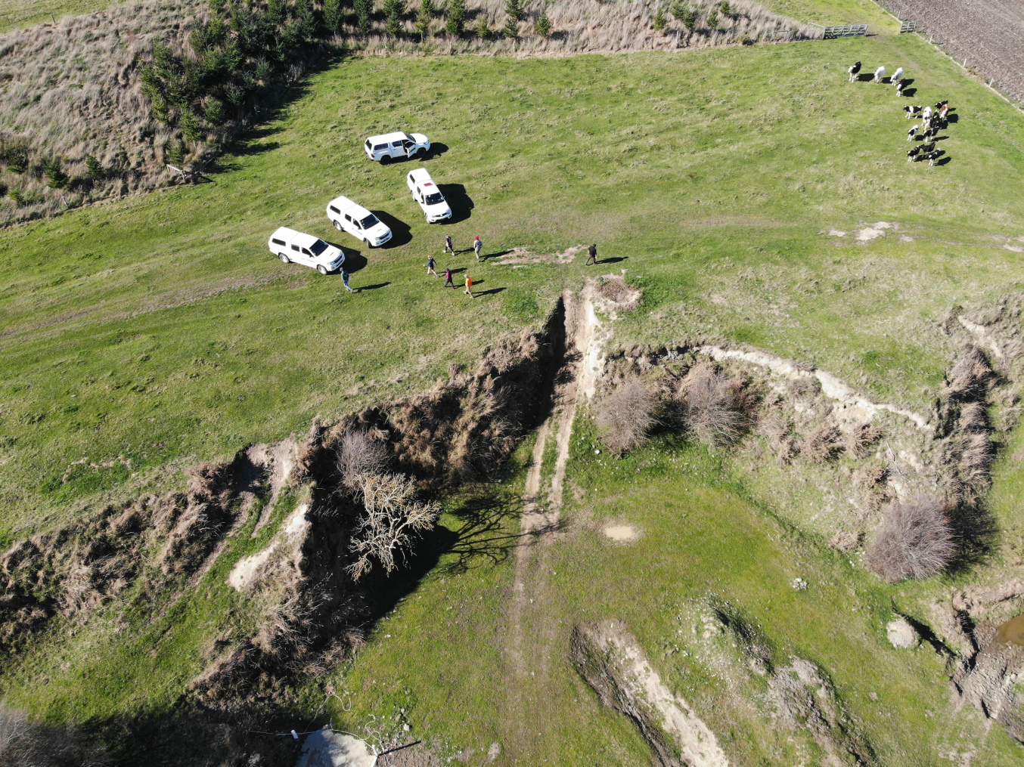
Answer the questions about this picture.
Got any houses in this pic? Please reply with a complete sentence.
No, this view has no house in it.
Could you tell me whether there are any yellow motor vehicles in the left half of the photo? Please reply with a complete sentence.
No, looking in the left half of the photo, there is no yellow motor vehicle.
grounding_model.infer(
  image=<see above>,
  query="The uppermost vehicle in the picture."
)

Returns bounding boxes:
[361,131,433,164]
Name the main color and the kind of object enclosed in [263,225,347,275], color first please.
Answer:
white truck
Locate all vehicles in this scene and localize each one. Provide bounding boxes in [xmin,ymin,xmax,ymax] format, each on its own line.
[323,195,395,249]
[361,131,433,164]
[263,225,347,275]
[405,169,453,223]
